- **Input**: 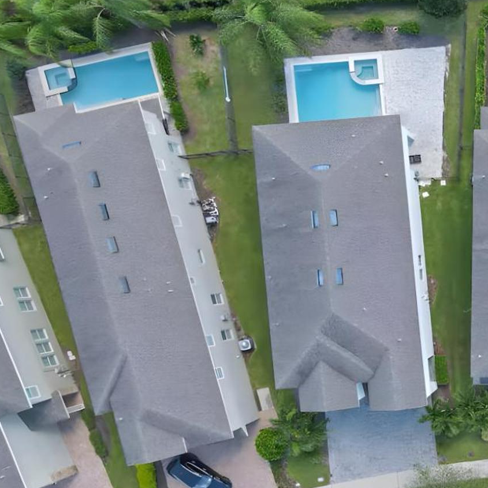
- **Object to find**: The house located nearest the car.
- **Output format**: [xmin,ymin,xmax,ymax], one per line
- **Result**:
[12,96,261,465]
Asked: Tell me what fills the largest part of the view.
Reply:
buildings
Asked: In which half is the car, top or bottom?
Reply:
bottom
